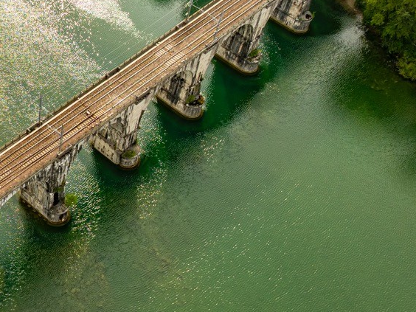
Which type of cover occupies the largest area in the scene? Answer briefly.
water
